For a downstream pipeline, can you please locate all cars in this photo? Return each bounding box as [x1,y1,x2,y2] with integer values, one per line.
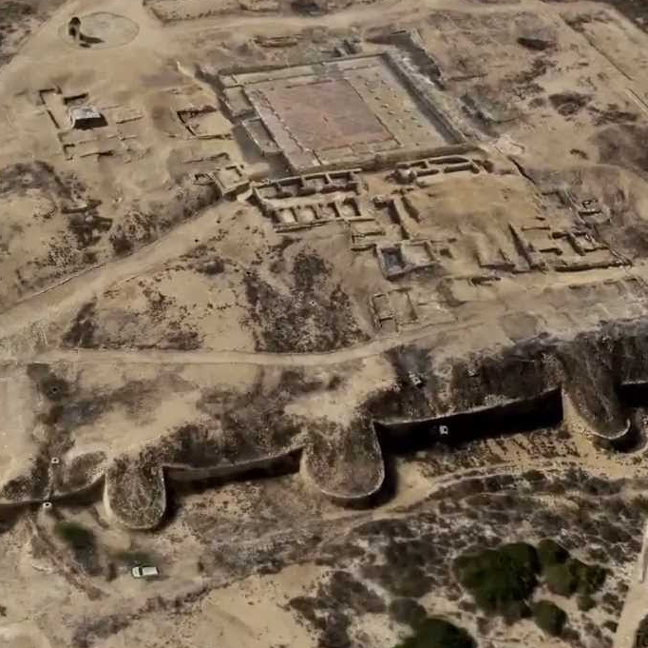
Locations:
[133,568,158,581]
